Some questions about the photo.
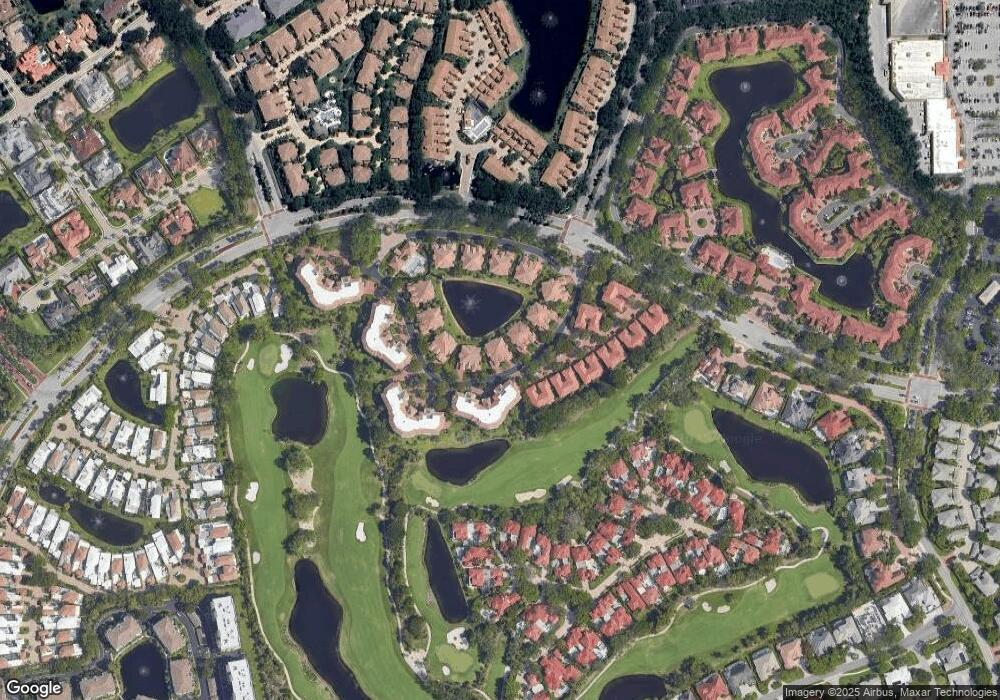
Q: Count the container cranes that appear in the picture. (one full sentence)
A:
There are no container cranes in this view.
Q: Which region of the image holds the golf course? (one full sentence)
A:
The golf course sits in the bottom section of the image.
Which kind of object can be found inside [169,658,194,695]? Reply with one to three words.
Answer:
building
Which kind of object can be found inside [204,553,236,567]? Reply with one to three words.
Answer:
house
